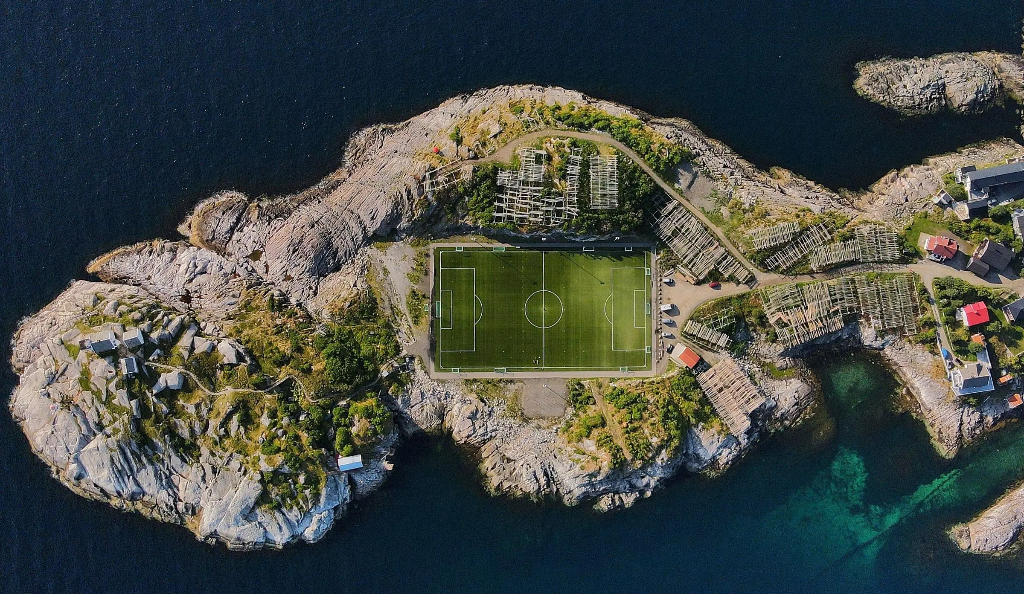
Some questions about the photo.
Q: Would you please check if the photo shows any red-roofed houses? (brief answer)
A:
Yes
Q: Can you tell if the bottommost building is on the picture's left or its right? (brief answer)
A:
left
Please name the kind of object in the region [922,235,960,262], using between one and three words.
house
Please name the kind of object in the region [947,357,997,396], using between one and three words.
house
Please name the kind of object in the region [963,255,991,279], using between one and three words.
building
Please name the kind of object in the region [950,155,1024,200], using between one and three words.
building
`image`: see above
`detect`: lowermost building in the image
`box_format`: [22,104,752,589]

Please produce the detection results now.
[335,453,365,473]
